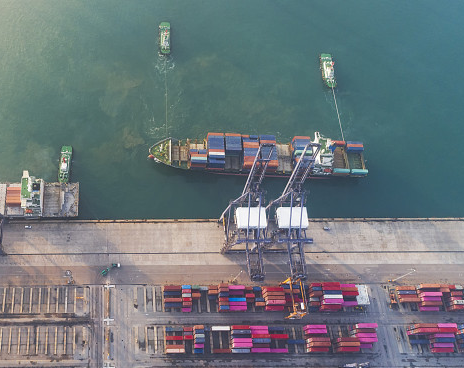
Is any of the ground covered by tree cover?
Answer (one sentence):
No, no tree cover is visible.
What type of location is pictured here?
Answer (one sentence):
This image shows a port.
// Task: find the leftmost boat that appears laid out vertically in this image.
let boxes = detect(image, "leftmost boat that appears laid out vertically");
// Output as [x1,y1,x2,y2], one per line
[56,146,74,182]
